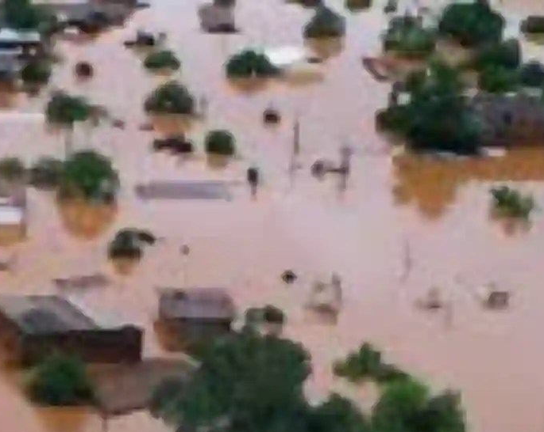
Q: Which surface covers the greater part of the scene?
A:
water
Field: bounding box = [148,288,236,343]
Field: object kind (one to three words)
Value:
house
